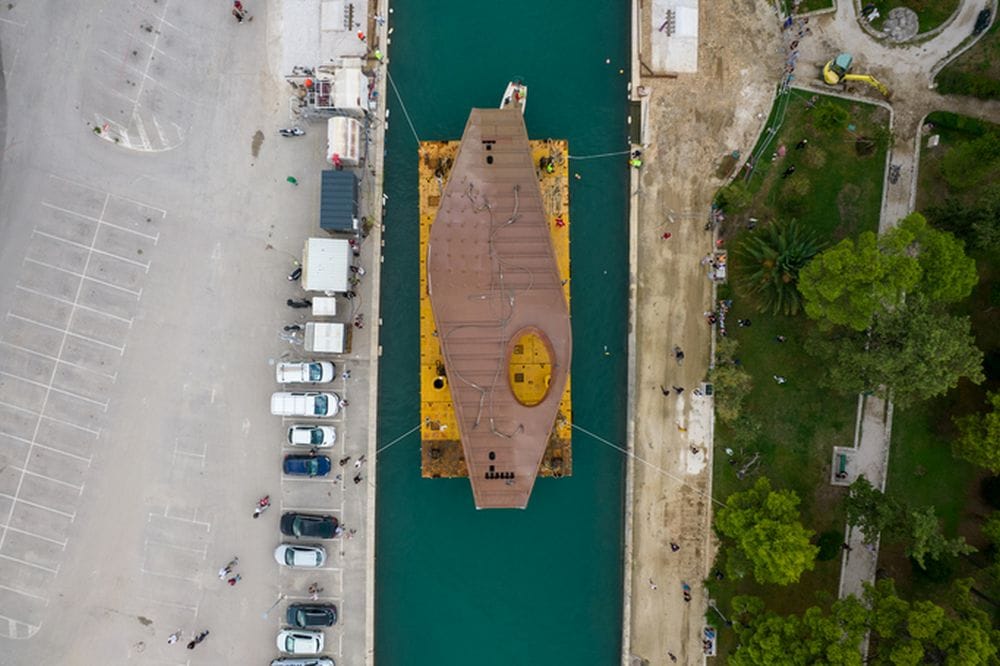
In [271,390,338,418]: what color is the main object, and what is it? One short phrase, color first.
white van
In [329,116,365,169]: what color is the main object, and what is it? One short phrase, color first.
white tent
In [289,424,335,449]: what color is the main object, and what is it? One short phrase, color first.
white car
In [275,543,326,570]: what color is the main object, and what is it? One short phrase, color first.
white car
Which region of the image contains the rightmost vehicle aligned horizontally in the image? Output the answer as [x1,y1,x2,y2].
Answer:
[811,53,894,104]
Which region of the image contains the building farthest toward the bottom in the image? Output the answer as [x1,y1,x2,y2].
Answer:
[305,323,356,353]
